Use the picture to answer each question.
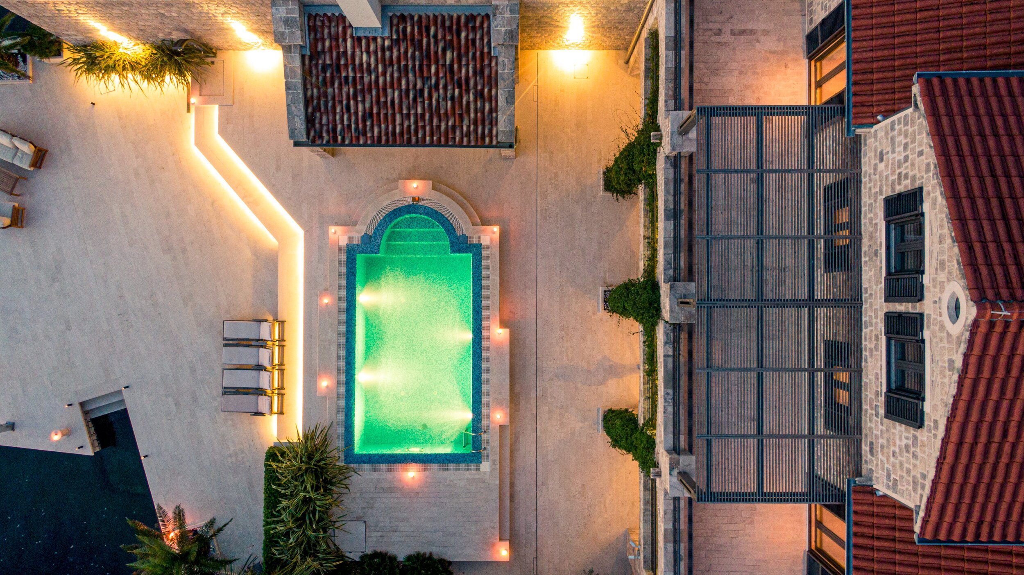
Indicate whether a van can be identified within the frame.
No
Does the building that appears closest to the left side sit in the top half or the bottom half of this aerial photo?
top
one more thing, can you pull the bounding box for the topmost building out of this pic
[270,0,519,171]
